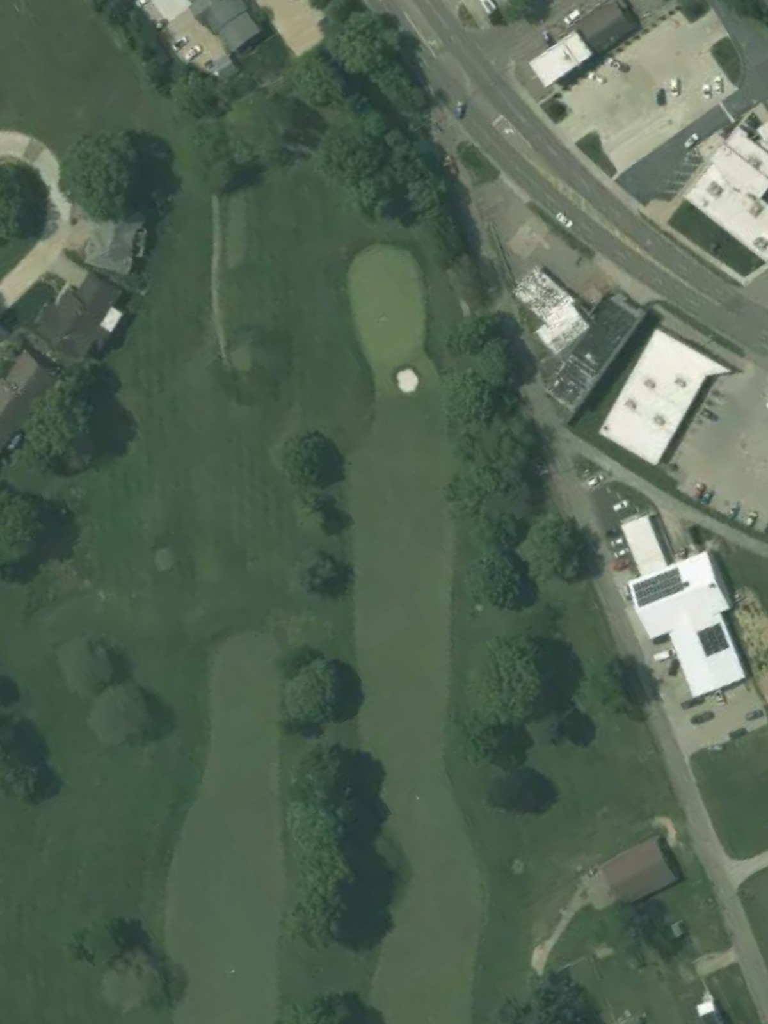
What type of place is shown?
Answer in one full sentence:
This looks like a golf course.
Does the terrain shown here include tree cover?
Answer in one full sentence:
Yes, tree cover shows up in the scene.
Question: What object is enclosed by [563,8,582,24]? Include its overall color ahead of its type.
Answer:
white vehicle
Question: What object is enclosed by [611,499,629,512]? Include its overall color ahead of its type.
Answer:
white vehicle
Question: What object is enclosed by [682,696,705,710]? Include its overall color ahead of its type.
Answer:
gray vehicle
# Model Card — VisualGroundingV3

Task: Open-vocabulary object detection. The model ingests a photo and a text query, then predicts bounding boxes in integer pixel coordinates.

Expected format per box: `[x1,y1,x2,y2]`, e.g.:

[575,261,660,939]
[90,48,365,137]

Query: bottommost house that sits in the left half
[0,352,53,448]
